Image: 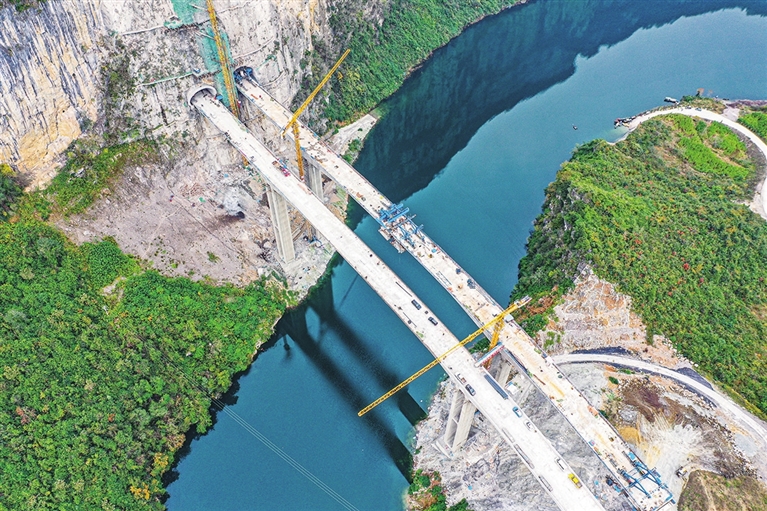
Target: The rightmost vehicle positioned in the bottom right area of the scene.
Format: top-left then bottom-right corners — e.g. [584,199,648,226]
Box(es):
[672,460,693,476]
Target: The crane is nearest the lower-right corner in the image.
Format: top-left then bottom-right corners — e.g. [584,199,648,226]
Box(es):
[358,290,527,416]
